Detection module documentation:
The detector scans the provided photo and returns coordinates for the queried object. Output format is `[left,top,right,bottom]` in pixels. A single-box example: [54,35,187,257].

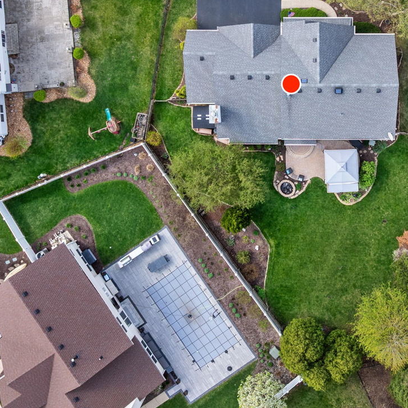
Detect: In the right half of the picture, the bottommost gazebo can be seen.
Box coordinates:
[323,147,360,192]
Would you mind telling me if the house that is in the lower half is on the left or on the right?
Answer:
left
